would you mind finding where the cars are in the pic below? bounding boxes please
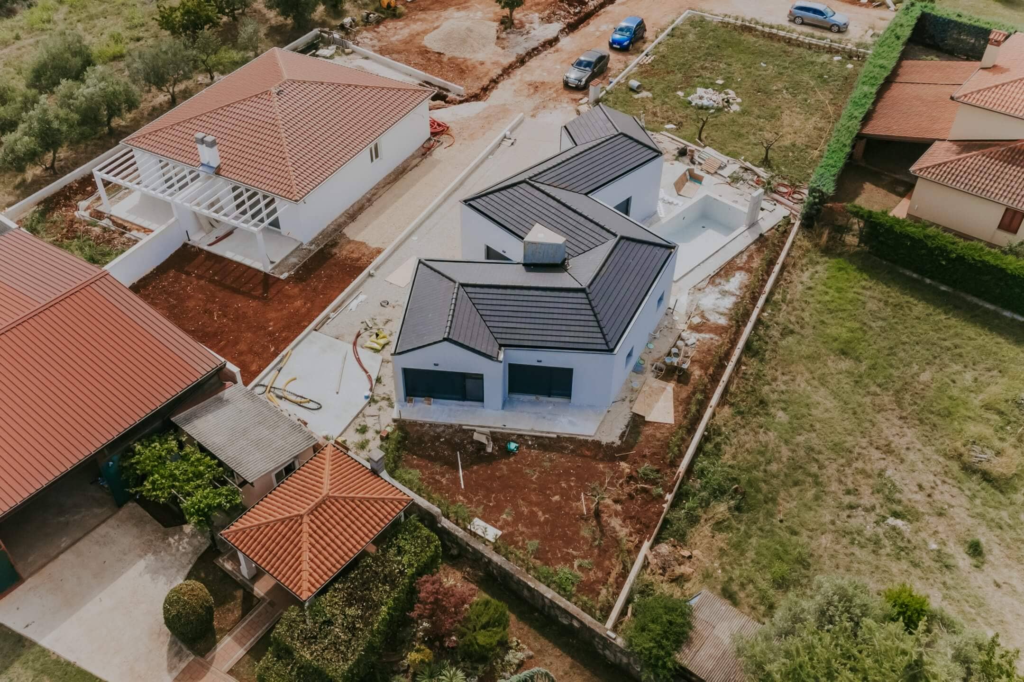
[609,15,646,51]
[565,49,610,88]
[790,0,853,32]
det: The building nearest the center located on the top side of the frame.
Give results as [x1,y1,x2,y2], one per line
[389,103,681,410]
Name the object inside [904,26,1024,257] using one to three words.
house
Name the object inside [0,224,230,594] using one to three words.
shed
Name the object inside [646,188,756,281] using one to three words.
swimming pool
